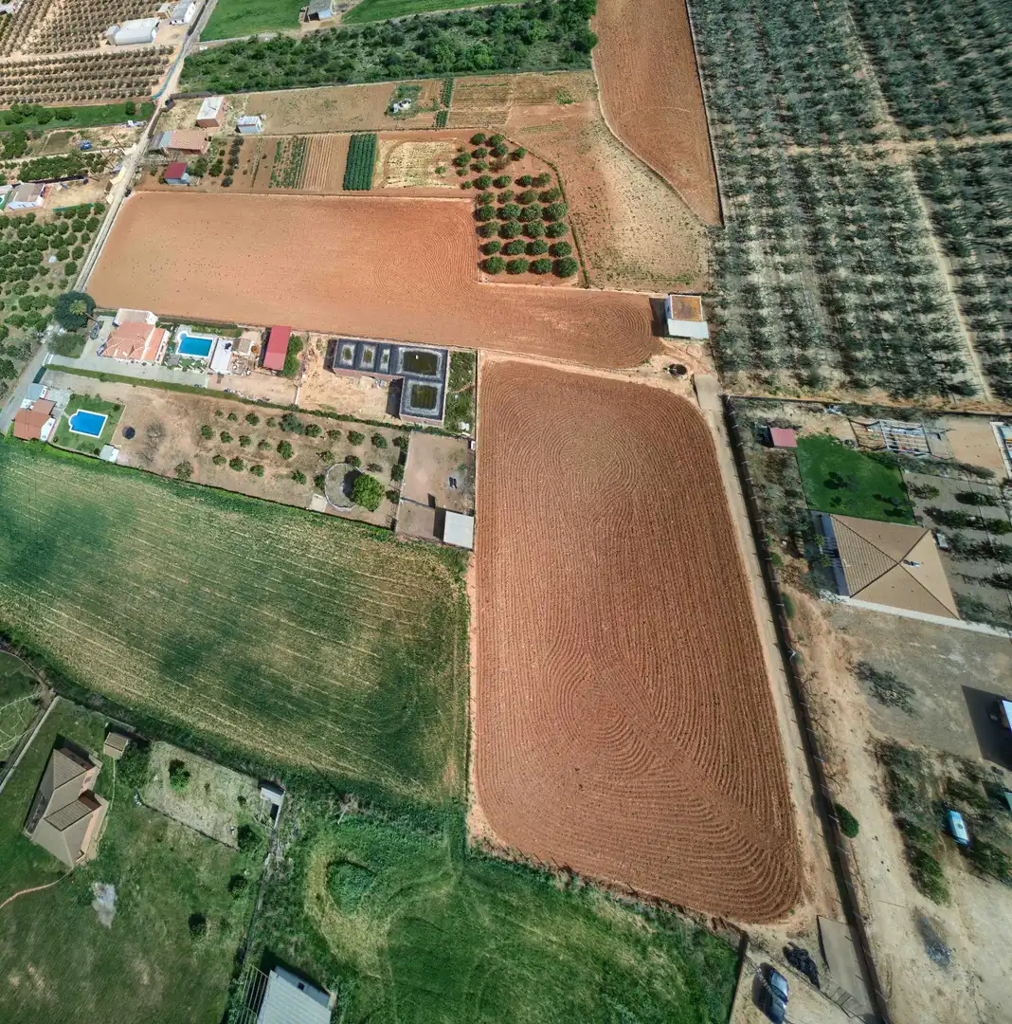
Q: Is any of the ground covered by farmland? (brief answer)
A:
Yes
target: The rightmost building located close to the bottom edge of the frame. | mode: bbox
[255,957,337,1024]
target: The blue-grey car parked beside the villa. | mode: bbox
[86,324,103,341]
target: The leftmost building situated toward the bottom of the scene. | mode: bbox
[32,749,108,869]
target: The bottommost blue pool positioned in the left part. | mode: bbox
[66,409,105,437]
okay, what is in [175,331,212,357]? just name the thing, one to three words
swimming pool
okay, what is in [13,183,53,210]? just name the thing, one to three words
house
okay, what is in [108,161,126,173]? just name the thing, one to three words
vehicle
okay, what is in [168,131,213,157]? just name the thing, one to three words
barn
